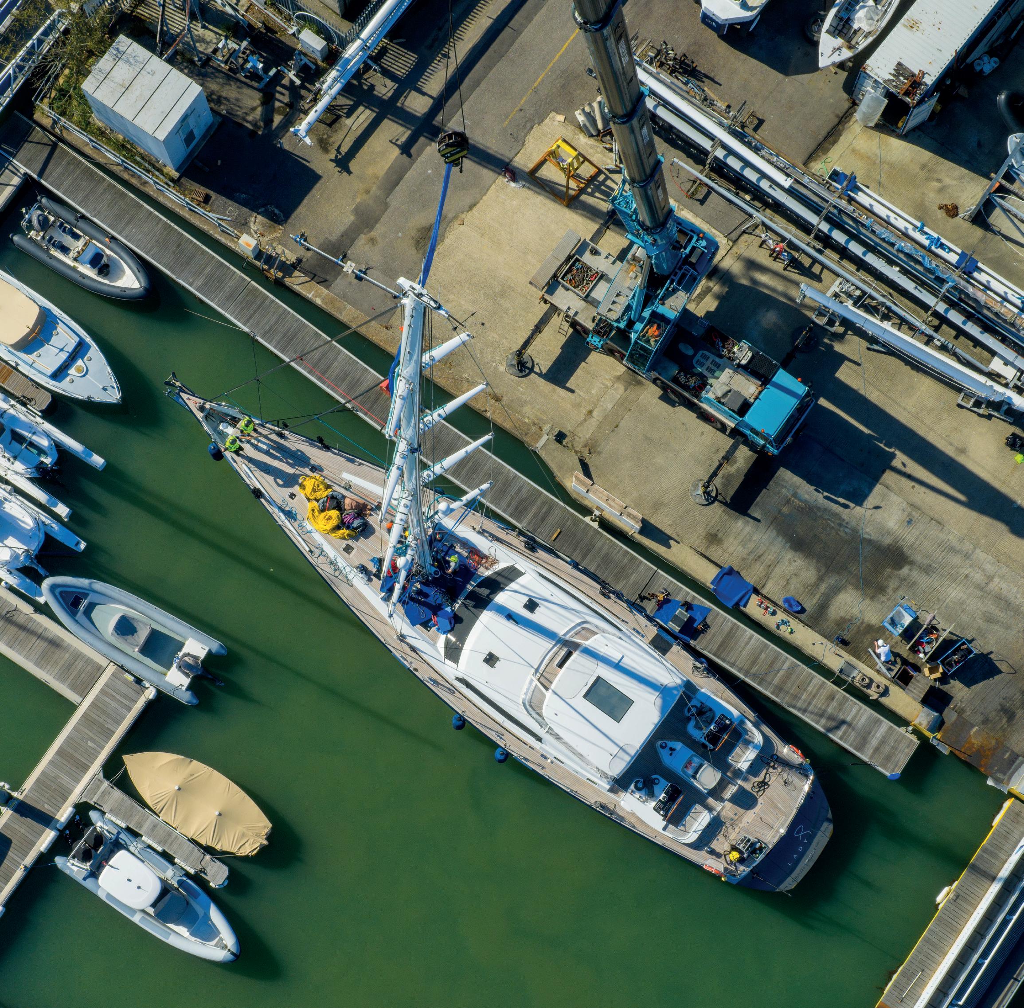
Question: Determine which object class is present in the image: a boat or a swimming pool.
boat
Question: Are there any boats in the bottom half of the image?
Yes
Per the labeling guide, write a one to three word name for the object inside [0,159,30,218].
pier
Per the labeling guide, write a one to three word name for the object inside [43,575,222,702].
boat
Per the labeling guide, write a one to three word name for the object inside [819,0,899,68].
boat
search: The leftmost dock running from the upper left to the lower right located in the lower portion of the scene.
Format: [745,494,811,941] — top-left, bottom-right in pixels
[0,579,110,707]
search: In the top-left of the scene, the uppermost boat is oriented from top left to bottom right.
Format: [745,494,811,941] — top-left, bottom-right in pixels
[15,198,153,301]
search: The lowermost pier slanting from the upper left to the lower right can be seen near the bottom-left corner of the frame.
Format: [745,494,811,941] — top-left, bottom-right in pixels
[77,768,230,890]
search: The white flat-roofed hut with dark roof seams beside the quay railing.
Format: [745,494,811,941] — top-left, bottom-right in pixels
[81,35,221,176]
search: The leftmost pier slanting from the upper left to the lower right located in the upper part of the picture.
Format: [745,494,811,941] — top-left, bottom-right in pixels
[0,361,54,412]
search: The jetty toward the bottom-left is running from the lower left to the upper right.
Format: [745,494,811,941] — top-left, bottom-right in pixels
[0,661,151,918]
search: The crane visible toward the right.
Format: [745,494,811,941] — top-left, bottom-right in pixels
[506,0,825,502]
